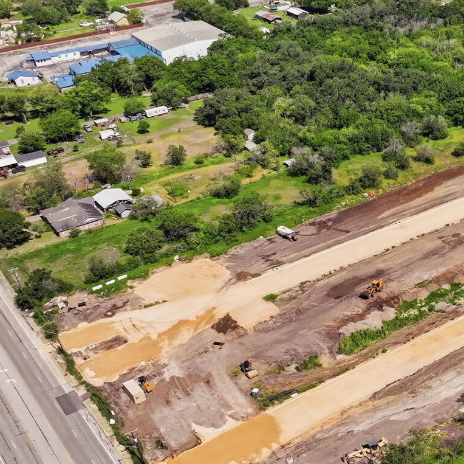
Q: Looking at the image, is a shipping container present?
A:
Yes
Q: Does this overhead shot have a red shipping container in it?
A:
No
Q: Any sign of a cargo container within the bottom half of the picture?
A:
Yes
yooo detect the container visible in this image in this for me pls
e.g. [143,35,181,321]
[122,378,148,408]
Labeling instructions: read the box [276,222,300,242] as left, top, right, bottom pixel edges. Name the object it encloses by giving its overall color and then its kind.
white vehicle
